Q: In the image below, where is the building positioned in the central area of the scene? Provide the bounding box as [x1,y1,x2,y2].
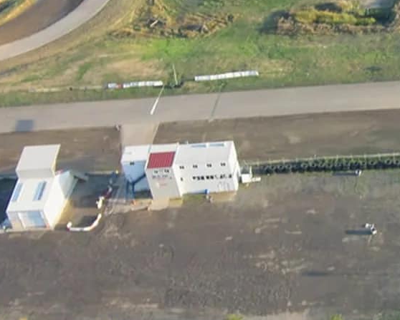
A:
[120,141,245,203]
